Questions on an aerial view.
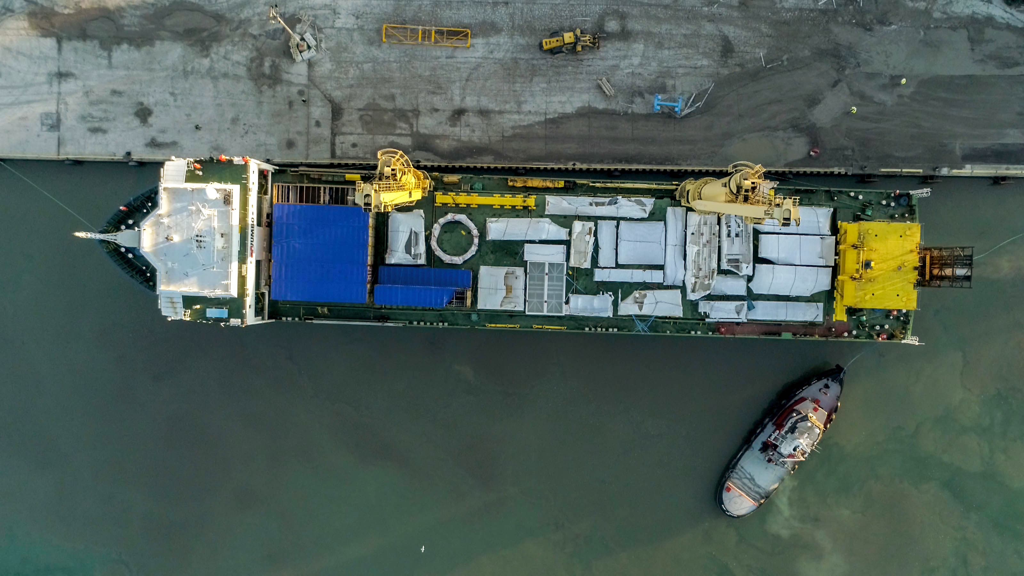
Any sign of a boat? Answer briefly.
Yes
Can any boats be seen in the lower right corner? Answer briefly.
Yes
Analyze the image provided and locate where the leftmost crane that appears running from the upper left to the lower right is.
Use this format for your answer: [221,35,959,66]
[270,4,317,64]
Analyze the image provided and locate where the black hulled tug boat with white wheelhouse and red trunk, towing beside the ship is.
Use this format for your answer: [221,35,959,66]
[717,364,848,517]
